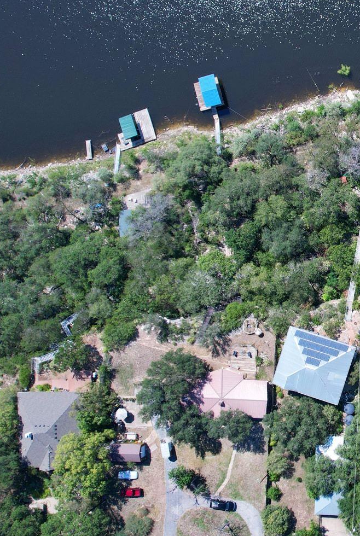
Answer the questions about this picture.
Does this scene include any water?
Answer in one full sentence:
Yes, water can be seen from above here.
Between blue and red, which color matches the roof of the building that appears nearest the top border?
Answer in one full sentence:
The roof of the building that appears nearest the top border looks blue in the image.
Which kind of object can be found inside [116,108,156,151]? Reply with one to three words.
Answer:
pier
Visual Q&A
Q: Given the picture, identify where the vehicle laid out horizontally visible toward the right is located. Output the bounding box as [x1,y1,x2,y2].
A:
[208,500,236,513]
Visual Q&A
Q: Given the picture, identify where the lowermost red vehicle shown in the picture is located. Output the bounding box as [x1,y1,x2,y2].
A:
[119,488,143,500]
